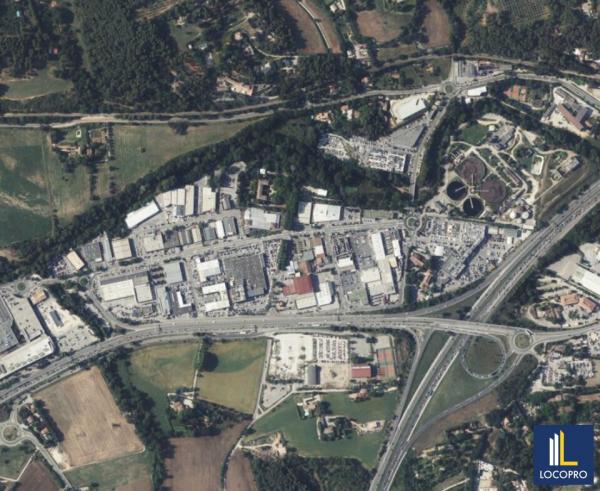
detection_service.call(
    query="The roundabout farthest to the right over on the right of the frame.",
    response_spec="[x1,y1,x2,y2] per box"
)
[508,326,538,357]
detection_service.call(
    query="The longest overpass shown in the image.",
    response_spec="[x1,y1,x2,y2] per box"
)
[439,319,489,336]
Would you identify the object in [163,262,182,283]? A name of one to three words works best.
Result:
building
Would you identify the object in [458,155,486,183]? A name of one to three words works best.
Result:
water tank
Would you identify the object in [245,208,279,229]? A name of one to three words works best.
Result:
building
